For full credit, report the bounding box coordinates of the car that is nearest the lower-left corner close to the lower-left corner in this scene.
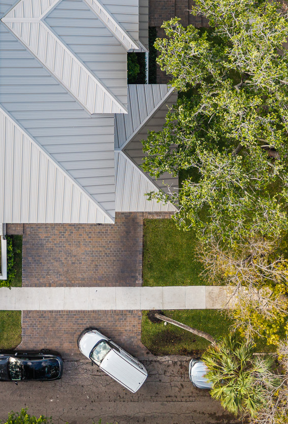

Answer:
[0,347,63,387]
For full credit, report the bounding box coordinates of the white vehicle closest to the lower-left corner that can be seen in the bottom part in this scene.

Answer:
[73,324,149,392]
